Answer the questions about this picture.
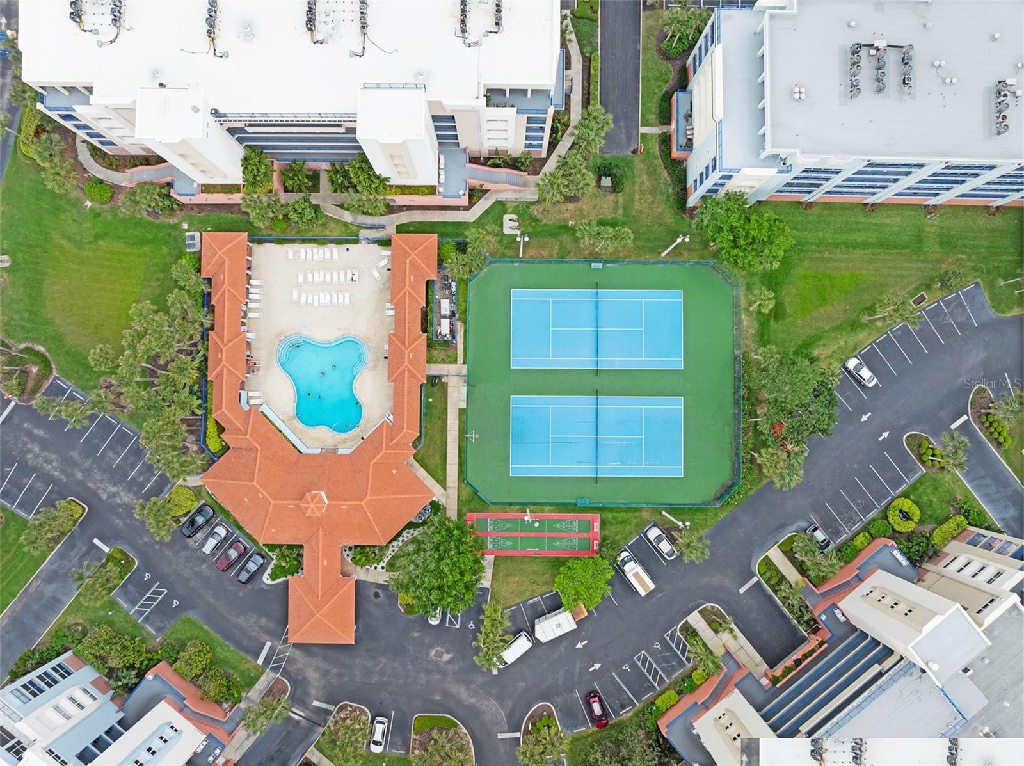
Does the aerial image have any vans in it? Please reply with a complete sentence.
Yes, a van appears in the view.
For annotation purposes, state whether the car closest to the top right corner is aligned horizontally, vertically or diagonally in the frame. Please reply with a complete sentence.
What the image shows is the car closest to the top right corner lying diagonally.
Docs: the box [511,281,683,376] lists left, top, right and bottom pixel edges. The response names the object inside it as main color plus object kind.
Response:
blue tennis court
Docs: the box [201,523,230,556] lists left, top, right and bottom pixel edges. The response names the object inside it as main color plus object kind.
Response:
white car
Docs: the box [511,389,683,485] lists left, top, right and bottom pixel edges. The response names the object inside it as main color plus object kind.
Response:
blue tennis court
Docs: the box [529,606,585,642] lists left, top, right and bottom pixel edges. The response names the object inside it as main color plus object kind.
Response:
white trailer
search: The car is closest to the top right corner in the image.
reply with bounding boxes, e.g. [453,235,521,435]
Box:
[843,355,876,389]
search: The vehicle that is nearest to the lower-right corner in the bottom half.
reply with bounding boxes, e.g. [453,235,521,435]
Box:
[803,520,835,552]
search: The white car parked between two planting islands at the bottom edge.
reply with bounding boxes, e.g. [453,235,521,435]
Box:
[370,716,389,751]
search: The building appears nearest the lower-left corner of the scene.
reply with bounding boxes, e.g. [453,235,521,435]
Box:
[0,652,253,766]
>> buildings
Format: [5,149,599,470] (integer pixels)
[660,526,1024,766]
[0,652,253,766]
[670,0,1024,210]
[200,232,438,644]
[17,0,565,205]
